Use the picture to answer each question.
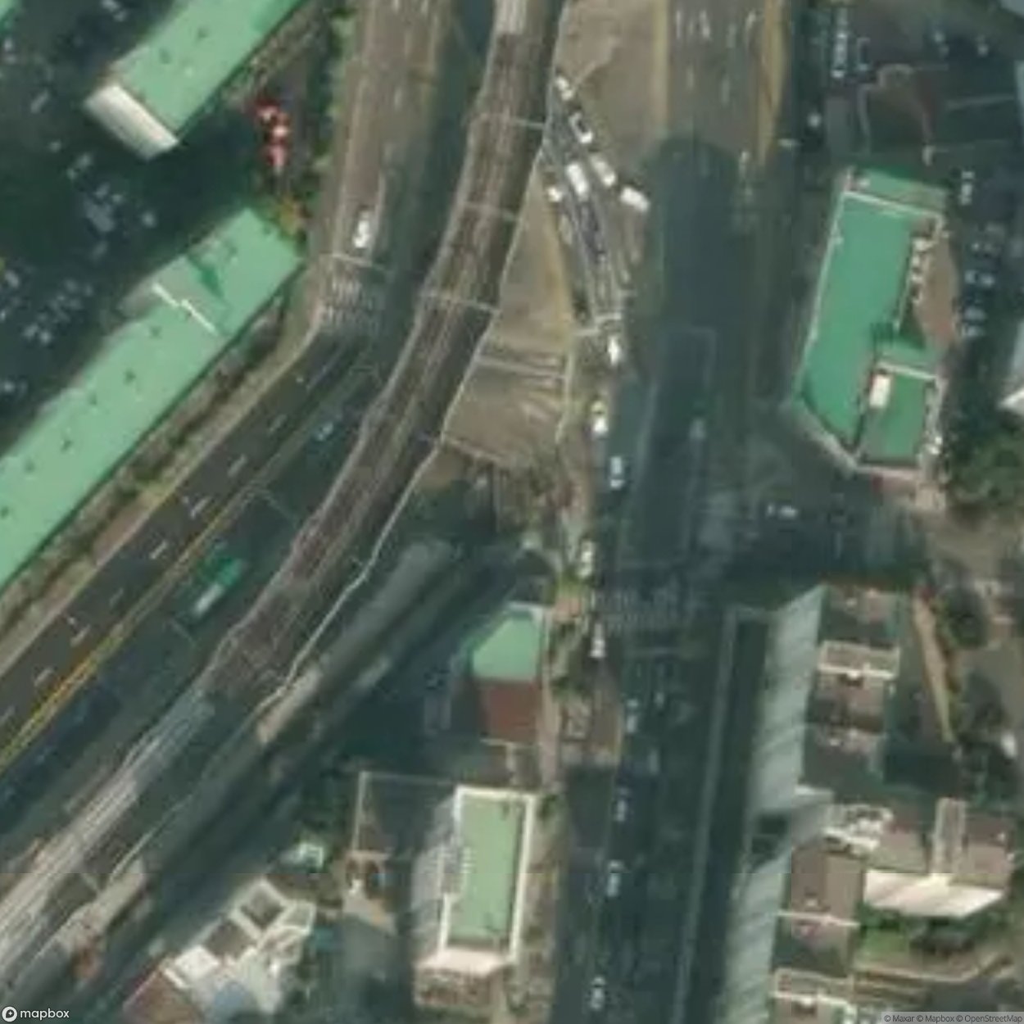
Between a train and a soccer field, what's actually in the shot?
train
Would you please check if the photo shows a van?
Yes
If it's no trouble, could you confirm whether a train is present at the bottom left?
Yes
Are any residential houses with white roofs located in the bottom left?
Yes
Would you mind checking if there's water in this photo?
No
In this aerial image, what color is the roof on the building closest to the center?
green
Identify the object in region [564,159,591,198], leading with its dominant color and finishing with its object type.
white vehicle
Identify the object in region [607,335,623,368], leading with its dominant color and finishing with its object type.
white car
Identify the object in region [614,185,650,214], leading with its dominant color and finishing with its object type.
white truck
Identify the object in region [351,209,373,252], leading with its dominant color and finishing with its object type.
white vehicle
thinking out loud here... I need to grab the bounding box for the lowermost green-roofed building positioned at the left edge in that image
[0,207,308,591]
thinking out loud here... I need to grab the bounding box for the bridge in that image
[0,0,574,981]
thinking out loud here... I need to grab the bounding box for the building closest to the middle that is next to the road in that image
[455,605,547,686]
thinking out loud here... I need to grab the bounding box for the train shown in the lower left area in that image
[0,701,208,929]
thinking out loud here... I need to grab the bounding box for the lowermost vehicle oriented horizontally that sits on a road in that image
[764,505,796,519]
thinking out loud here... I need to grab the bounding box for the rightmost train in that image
[500,0,536,38]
